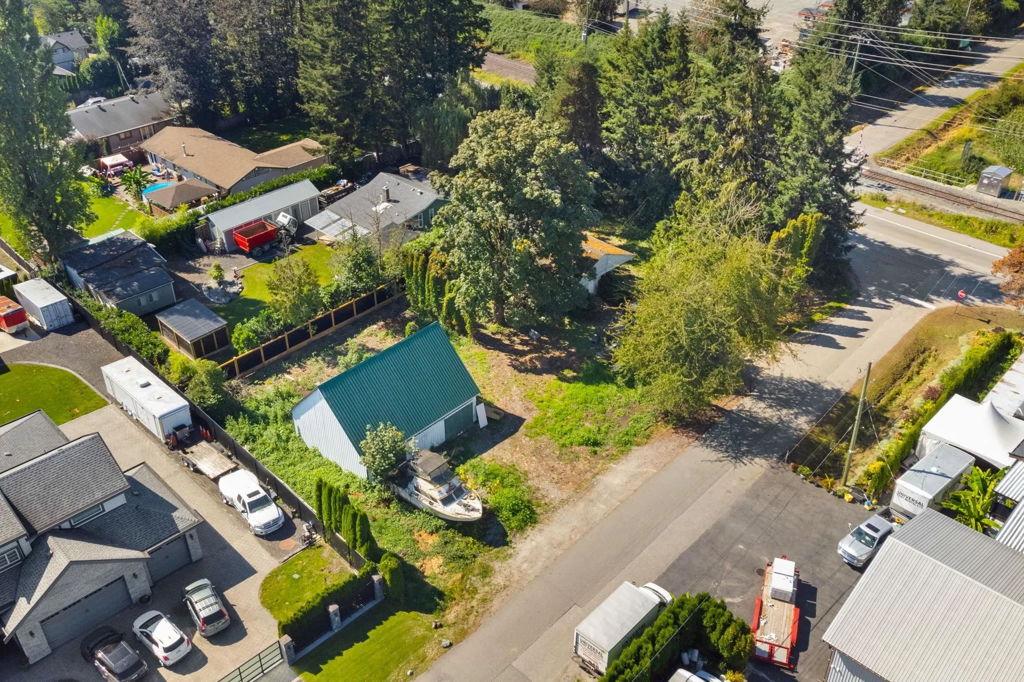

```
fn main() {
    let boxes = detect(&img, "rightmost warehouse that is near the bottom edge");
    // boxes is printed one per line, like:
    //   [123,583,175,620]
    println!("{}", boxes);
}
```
[818,509,1024,682]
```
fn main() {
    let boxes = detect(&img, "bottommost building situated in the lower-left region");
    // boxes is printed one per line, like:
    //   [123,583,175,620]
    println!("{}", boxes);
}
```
[0,410,208,667]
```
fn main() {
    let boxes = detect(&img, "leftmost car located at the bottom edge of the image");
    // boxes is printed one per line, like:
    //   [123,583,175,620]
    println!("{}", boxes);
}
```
[75,635,145,682]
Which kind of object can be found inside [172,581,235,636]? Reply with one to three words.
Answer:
car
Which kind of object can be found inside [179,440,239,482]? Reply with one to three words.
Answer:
trailer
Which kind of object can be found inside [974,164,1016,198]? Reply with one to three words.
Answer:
house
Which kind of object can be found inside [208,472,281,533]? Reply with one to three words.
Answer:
truck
